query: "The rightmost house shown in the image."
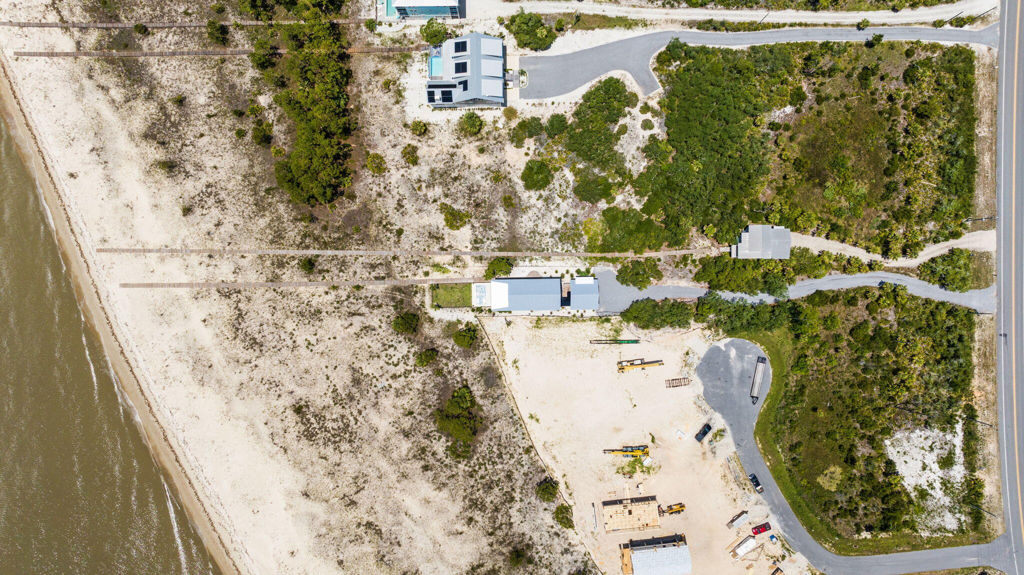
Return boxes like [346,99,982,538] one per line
[719,225,792,259]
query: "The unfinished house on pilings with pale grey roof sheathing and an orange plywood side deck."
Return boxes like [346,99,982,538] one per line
[616,537,693,575]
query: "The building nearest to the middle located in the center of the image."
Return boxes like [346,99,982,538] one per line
[472,280,570,311]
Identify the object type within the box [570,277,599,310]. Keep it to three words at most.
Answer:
building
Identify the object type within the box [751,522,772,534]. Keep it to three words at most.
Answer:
vehicle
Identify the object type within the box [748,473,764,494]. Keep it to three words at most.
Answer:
vehicle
